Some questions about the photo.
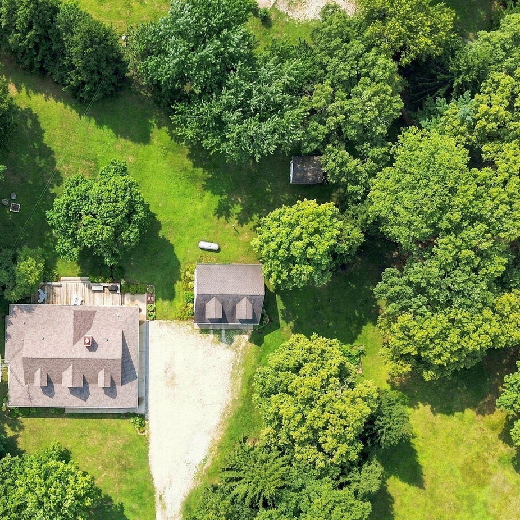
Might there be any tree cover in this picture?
Yes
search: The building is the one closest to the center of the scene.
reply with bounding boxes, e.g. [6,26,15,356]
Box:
[193,264,265,323]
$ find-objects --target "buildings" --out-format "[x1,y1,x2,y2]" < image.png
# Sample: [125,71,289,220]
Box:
[6,304,138,408]
[289,156,327,184]
[193,264,265,323]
